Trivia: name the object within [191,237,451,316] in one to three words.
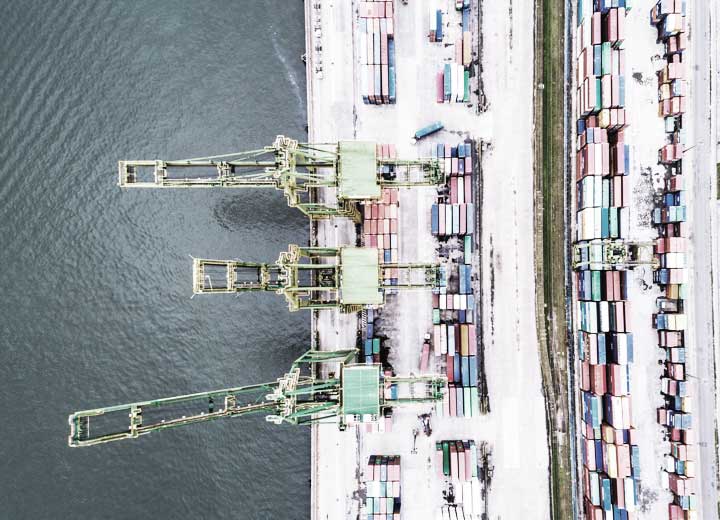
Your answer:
container crane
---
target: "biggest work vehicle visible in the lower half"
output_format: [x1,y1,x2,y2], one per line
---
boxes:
[417,414,434,441]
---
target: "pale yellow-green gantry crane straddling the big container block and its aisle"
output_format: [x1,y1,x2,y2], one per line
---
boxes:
[572,240,660,272]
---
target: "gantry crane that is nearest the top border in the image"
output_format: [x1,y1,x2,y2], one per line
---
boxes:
[117,133,451,232]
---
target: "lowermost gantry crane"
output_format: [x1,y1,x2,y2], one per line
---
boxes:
[67,335,451,450]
